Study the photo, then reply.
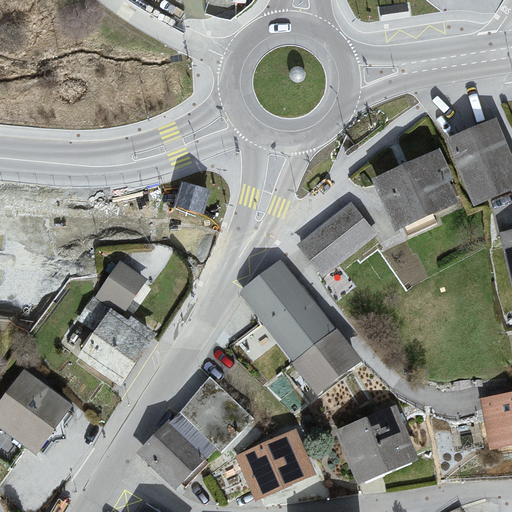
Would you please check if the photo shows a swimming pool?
Yes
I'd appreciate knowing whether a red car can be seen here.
Yes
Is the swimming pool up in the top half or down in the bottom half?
bottom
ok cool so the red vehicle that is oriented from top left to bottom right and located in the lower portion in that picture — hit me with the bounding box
[213,350,235,369]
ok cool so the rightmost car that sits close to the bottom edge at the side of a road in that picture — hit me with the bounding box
[235,492,254,506]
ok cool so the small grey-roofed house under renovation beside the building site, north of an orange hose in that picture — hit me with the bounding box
[175,182,211,214]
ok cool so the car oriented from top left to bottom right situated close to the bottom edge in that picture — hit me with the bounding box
[190,482,210,504]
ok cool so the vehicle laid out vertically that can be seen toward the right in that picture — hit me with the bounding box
[468,88,482,122]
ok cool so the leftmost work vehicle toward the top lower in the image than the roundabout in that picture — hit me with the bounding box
[313,178,338,195]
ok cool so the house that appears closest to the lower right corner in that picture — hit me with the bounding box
[480,391,512,450]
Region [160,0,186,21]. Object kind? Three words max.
truck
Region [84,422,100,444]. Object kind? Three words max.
car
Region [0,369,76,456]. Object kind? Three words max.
house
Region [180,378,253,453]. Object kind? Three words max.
building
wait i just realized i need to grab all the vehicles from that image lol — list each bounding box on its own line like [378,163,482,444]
[434,114,452,136]
[235,492,254,506]
[156,409,175,430]
[138,0,158,12]
[490,194,512,208]
[160,0,186,21]
[190,482,210,504]
[204,361,224,380]
[313,178,338,195]
[213,350,235,369]
[430,94,453,118]
[468,88,482,122]
[84,422,100,444]
[268,22,291,34]
[52,496,72,512]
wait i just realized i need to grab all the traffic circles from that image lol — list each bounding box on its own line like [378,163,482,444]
[218,9,362,155]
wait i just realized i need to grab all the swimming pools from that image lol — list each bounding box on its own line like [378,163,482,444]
[266,374,309,415]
